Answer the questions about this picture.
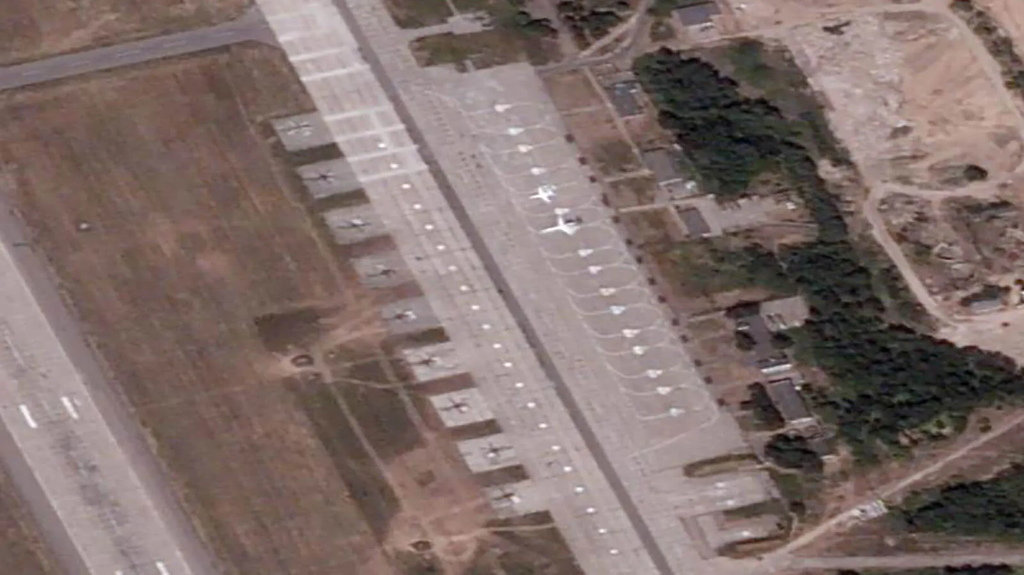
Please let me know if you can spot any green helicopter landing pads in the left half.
No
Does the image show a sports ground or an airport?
airport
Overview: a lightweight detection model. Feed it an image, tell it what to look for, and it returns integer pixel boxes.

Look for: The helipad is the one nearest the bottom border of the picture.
[481,479,551,517]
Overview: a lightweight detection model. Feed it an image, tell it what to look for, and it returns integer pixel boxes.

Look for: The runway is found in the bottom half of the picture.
[0,244,188,575]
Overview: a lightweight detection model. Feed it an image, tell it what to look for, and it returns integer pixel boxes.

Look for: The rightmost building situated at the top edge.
[676,0,722,29]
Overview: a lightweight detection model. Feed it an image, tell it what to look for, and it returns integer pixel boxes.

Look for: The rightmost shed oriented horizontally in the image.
[971,298,1006,314]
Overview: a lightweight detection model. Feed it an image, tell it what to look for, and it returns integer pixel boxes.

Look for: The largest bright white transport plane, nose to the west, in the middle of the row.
[540,215,581,240]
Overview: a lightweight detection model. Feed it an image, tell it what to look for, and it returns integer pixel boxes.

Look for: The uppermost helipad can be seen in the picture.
[272,111,336,151]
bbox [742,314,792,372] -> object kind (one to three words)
building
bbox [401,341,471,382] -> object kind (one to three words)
helipad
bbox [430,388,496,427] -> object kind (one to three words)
helipad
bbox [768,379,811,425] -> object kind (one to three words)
building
